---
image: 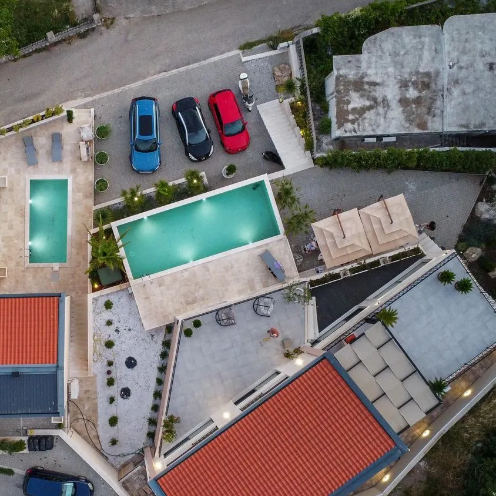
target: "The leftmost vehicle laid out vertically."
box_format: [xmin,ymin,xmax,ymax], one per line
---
[127,96,163,174]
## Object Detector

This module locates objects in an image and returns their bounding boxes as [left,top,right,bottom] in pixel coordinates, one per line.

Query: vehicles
[127,96,163,174]
[22,468,95,496]
[170,96,214,165]
[240,72,257,112]
[206,87,250,158]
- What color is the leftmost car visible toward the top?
blue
